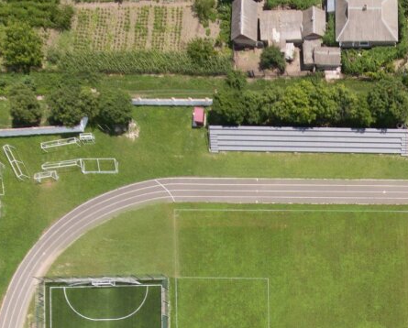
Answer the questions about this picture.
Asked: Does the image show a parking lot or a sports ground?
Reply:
sports ground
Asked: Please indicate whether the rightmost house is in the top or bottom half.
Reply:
top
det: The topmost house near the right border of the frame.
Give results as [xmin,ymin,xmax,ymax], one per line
[336,0,398,48]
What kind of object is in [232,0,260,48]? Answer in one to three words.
barn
